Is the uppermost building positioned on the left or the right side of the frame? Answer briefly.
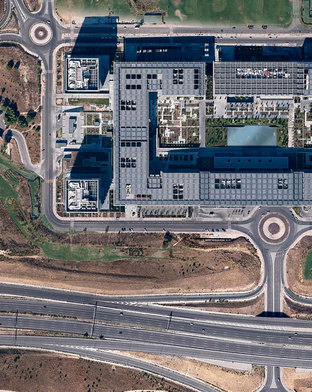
left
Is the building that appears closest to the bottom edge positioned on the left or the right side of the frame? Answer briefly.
left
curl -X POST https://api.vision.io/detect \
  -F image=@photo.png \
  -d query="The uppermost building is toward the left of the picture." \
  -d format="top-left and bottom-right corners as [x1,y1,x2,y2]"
[65,56,110,91]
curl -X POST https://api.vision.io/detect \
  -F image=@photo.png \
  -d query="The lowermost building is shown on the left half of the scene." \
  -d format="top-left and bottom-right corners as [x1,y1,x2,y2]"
[66,173,109,212]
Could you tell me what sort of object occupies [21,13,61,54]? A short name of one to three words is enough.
roundabout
